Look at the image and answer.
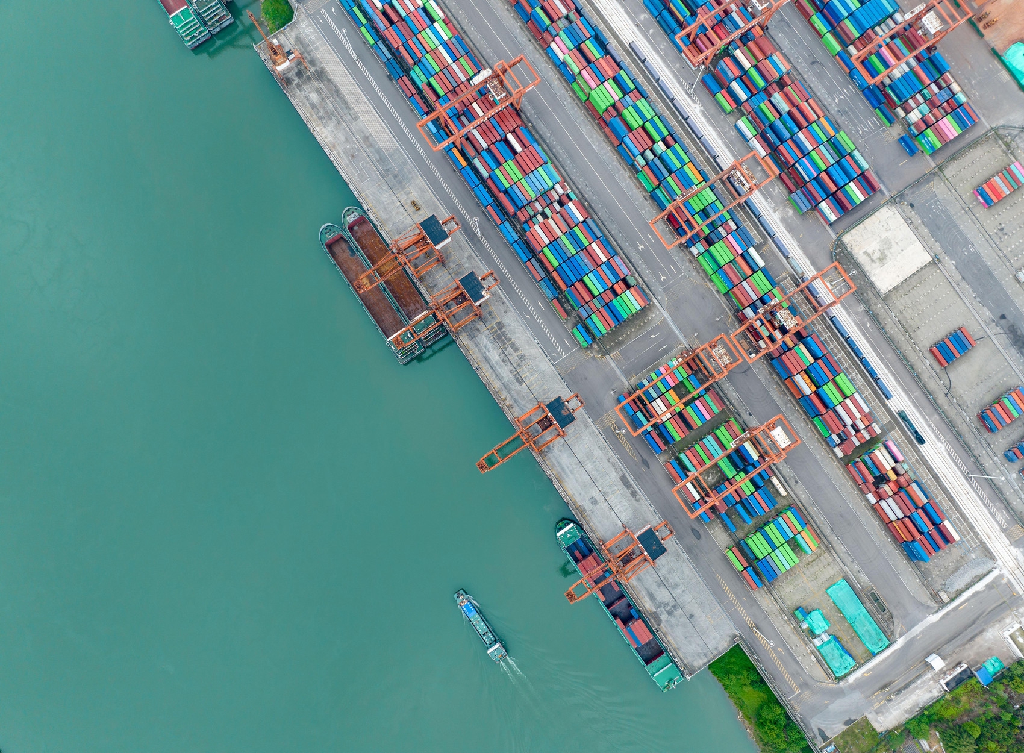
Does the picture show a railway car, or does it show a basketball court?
railway car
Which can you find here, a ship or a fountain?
ship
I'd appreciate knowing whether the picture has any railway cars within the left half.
No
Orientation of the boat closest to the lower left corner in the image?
diagonally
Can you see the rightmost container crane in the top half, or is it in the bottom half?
top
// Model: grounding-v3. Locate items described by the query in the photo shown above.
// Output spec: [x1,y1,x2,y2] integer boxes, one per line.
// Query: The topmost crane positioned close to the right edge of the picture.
[850,0,978,88]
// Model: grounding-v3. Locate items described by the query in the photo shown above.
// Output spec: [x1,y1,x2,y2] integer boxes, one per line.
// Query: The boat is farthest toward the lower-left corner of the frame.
[453,587,509,663]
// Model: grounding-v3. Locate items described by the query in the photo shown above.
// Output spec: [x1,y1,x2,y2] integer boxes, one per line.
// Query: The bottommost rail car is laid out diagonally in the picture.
[895,408,926,445]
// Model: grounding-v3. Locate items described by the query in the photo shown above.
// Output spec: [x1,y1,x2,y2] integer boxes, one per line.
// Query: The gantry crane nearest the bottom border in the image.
[565,521,674,603]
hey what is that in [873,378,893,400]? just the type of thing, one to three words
rail car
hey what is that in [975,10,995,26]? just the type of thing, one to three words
work vehicle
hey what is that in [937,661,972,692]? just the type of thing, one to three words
shed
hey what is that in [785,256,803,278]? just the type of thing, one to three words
rail car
